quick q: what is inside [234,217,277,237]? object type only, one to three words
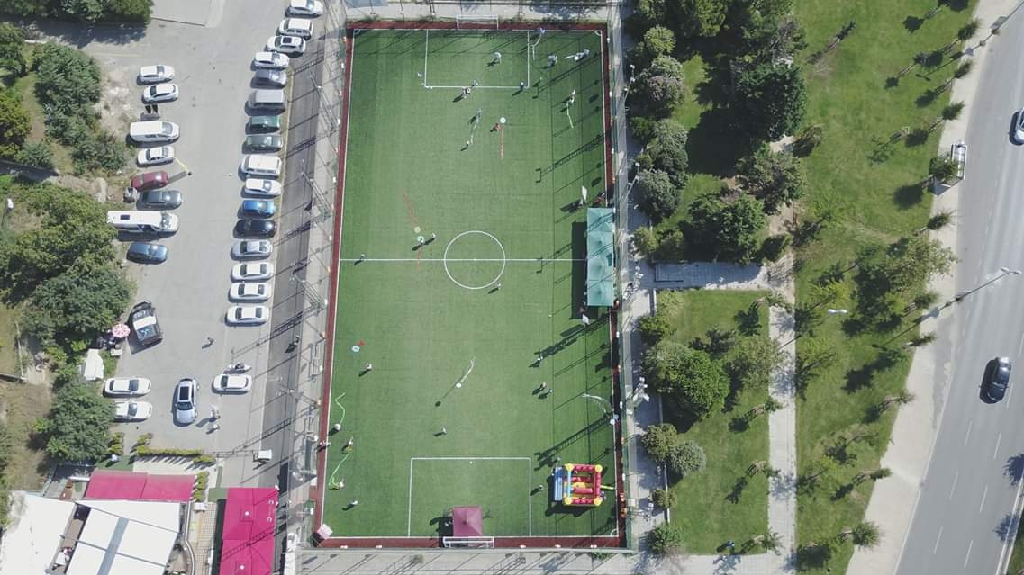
car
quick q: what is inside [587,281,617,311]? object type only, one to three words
gazebo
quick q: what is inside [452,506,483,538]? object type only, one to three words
gazebo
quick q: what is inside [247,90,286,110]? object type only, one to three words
vehicle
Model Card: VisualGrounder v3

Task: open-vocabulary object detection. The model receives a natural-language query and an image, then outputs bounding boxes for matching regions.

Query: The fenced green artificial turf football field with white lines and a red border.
[312,22,631,550]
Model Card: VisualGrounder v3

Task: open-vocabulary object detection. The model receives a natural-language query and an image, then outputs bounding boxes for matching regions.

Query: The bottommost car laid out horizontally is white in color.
[106,402,153,422]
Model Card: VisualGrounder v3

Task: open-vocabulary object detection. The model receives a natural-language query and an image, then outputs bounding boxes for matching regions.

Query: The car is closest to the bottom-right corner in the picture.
[982,356,1011,404]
